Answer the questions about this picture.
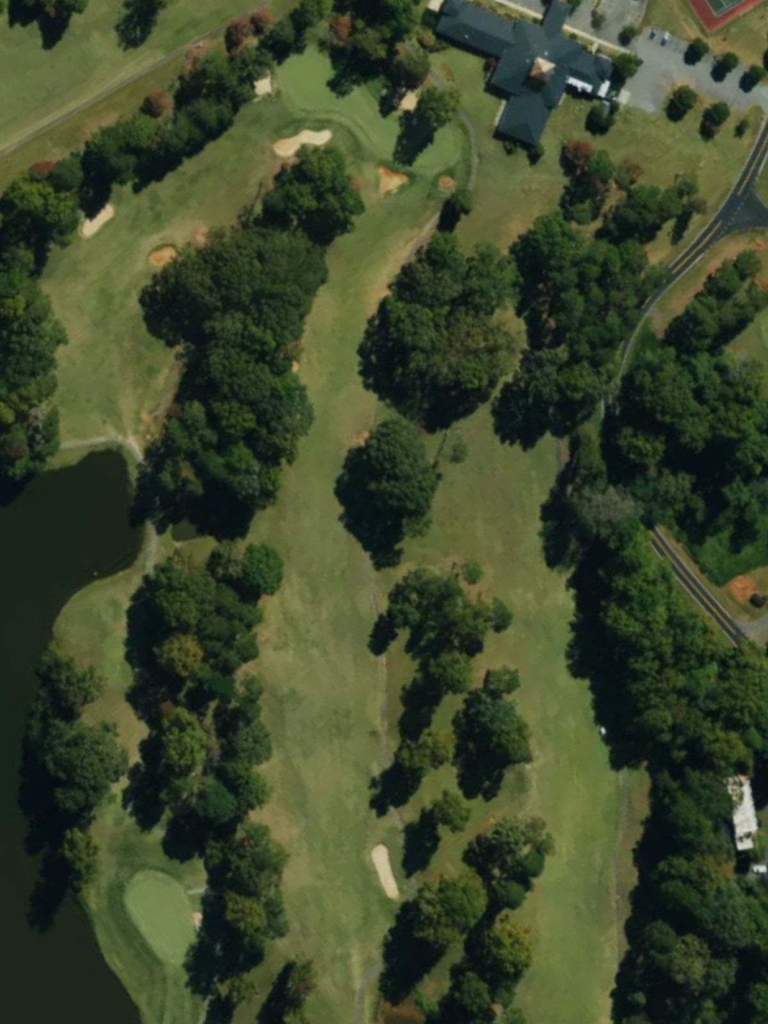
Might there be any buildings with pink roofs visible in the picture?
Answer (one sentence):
No, there's no building with a pink roof here.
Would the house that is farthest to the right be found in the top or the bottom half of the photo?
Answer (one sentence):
You can find the house that is farthest to the right in the bottom half.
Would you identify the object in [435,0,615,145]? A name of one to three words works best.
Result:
building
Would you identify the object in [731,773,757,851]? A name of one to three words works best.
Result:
house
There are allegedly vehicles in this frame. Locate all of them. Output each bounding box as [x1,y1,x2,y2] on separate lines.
[649,29,656,40]
[754,866,766,872]
[661,31,669,44]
